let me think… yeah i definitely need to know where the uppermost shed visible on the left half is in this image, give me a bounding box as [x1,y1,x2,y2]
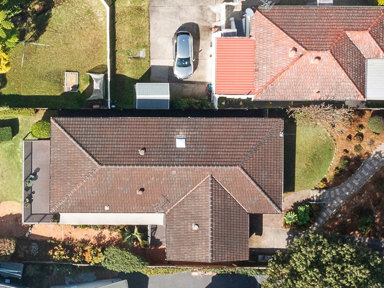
[134,81,171,111]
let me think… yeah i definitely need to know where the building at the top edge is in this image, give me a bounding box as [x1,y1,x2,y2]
[215,6,384,102]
